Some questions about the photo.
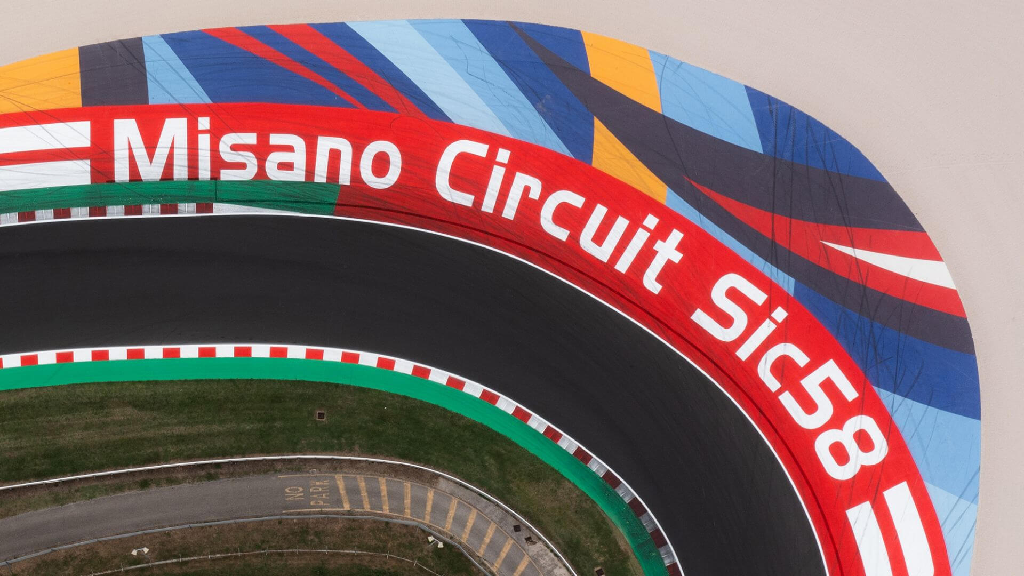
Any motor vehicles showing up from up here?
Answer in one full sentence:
No, there isn't any motor vehicle down there.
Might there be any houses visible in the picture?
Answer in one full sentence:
No, the scene contains no house.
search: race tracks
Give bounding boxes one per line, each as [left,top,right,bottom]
[0,213,830,576]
